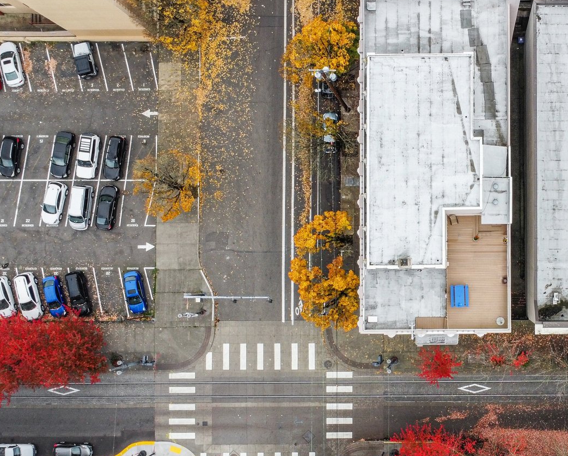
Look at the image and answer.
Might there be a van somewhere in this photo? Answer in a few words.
Yes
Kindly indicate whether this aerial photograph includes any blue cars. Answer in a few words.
Yes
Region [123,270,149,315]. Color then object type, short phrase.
blue car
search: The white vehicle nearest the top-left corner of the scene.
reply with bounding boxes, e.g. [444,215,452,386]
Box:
[0,43,28,89]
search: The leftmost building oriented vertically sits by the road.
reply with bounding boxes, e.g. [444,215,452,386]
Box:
[353,0,521,346]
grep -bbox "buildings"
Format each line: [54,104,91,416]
[525,3,568,334]
[0,0,152,40]
[353,0,521,346]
